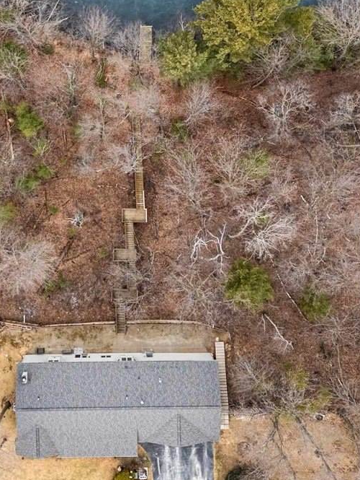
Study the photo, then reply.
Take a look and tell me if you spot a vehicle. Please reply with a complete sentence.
No, the scene contains no vehicle.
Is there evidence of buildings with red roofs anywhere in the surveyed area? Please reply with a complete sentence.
No, the photo shows no building with a red roof.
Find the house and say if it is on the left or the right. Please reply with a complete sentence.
It is on the left.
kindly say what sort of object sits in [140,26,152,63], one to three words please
pier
